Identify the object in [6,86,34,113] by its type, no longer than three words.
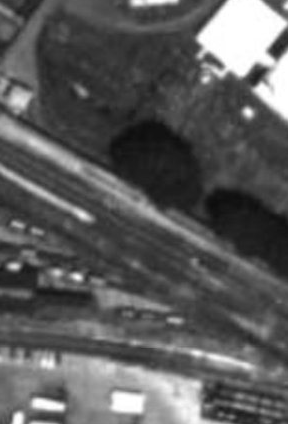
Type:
shed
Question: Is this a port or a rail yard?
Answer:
rail yard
